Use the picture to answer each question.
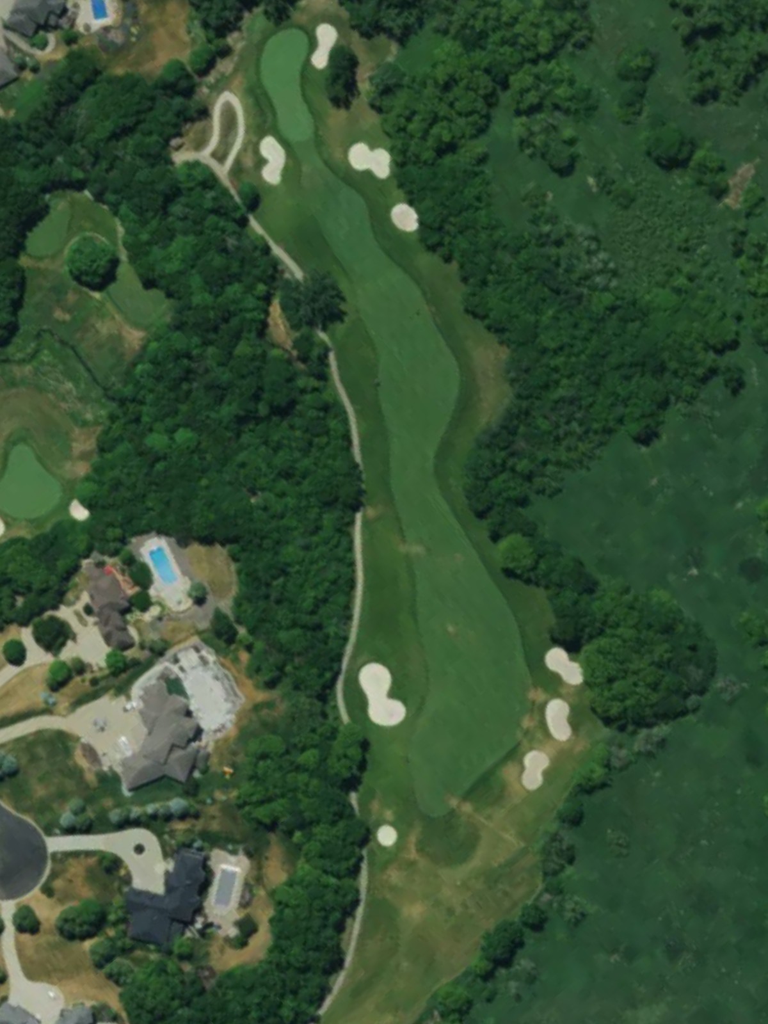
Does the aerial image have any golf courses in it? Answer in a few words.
Yes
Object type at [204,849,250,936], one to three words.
swimming pool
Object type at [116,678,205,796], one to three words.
house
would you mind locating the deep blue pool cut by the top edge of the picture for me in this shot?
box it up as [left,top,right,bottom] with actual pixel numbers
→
[71,0,123,34]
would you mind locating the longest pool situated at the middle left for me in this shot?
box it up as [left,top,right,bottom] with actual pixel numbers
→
[141,538,193,611]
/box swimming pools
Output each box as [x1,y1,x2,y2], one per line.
[204,849,250,936]
[71,0,123,34]
[141,538,193,611]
